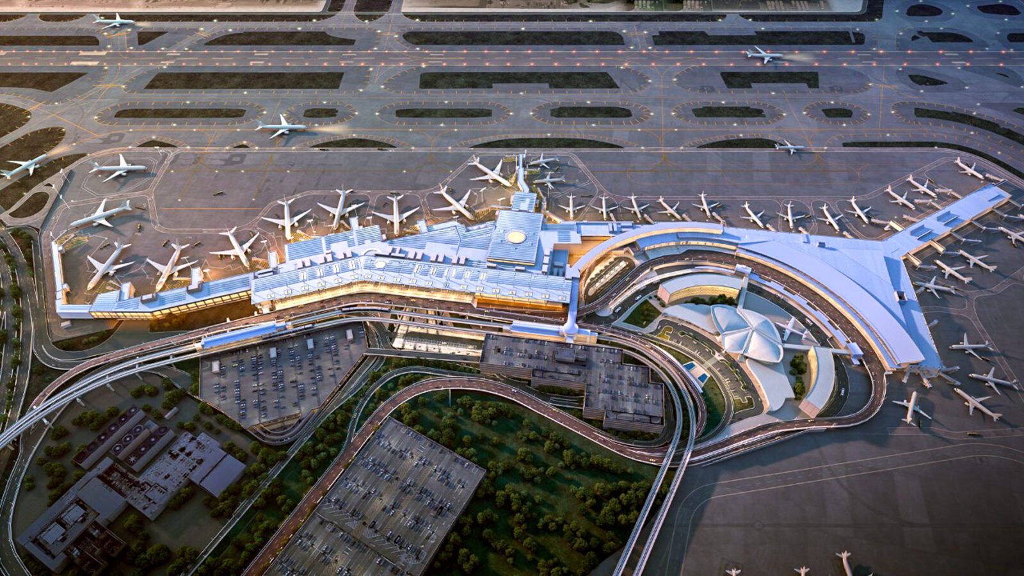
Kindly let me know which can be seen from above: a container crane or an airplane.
airplane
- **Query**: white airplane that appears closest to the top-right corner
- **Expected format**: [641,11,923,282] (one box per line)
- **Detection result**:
[953,154,983,180]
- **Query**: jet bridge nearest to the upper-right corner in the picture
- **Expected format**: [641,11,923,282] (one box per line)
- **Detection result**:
[983,171,1005,187]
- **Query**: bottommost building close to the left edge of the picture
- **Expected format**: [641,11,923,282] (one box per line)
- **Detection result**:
[17,432,249,576]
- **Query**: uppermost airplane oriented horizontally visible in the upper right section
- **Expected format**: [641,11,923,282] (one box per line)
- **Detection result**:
[746,44,782,61]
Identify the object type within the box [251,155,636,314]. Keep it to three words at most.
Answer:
building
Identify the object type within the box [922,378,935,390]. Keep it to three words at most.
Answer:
jet bridge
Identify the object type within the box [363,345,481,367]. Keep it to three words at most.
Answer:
bridge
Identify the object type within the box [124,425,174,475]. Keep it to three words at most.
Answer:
cooling tower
